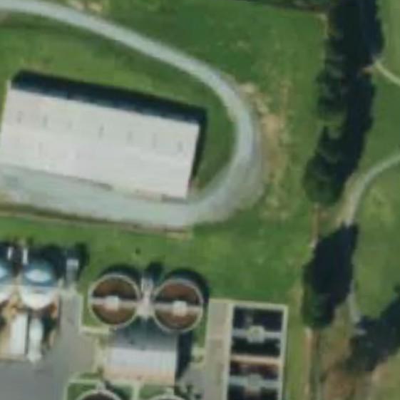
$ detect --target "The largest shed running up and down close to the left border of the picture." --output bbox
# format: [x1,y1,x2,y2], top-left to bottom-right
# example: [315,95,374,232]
[11,314,28,358]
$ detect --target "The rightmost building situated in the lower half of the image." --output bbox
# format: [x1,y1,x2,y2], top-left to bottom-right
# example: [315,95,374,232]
[106,328,178,380]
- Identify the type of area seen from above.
industrial area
